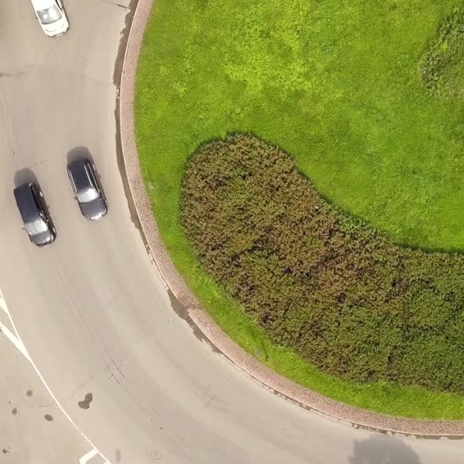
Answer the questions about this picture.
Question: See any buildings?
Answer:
No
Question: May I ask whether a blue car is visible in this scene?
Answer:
No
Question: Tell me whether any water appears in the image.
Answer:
No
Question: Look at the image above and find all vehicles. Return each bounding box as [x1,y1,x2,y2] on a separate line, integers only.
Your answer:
[70,160,109,222]
[29,0,69,39]
[13,182,57,248]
